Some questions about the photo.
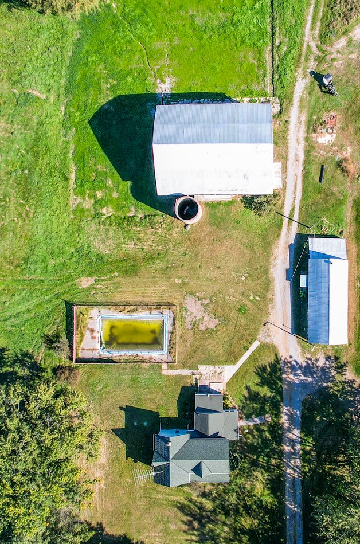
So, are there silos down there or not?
Yes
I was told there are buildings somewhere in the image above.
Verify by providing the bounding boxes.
[151,393,240,488]
[300,239,347,345]
[152,103,274,196]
